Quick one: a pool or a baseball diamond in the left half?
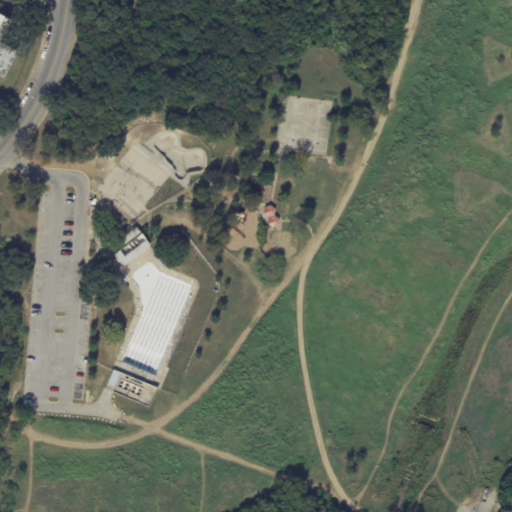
pool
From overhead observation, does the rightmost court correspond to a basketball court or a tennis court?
basketball court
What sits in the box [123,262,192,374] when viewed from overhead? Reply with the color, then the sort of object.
white swimming pool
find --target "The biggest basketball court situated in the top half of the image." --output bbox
[278,96,332,156]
